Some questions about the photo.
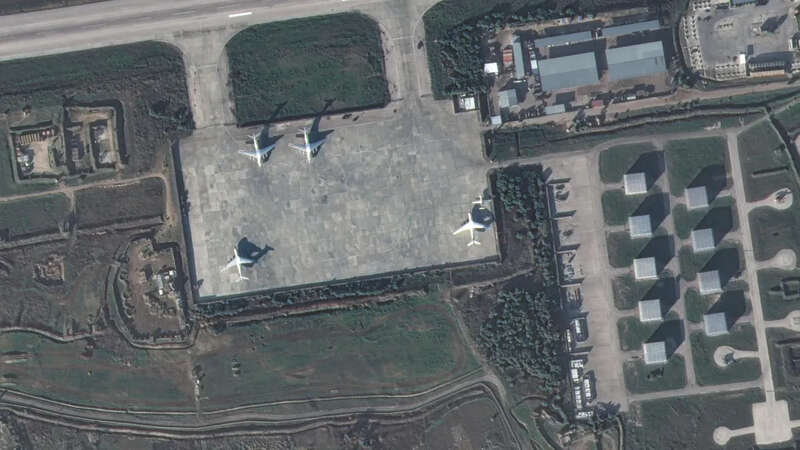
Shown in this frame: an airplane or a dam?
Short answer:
airplane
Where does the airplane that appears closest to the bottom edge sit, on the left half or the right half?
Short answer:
left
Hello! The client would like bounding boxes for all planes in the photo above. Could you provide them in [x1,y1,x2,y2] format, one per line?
[238,131,275,166]
[453,212,491,244]
[220,248,257,280]
[472,197,491,211]
[288,127,325,163]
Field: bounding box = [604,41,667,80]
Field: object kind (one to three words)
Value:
building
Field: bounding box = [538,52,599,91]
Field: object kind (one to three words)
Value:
building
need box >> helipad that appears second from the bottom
[712,346,763,366]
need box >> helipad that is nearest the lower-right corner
[713,427,756,445]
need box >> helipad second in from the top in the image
[752,249,796,271]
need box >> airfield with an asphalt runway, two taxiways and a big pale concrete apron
[0,0,501,301]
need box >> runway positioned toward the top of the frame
[0,0,344,62]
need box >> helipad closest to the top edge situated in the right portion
[744,189,792,210]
